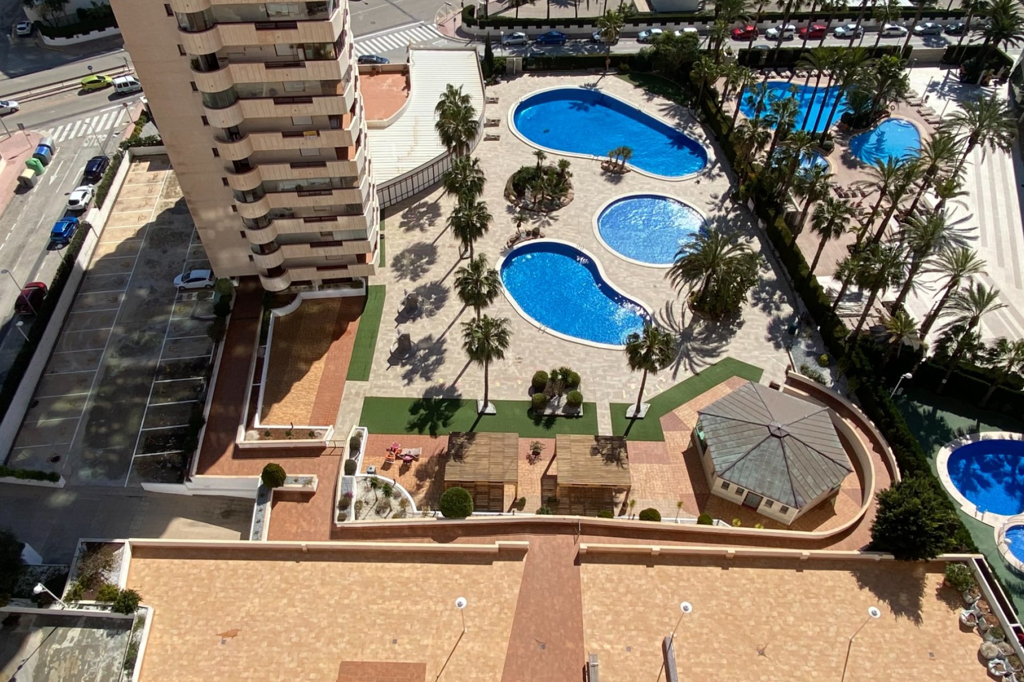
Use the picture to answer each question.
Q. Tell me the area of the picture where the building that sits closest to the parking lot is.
top left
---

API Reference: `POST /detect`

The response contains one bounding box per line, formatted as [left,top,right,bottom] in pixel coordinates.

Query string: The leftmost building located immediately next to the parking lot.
[105,0,386,303]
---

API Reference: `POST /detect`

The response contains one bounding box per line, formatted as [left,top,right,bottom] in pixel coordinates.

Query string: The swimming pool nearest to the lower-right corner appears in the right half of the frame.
[994,512,1024,568]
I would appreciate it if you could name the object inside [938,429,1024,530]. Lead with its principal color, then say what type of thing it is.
blue swimming pool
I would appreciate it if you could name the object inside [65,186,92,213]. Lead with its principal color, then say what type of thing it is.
white car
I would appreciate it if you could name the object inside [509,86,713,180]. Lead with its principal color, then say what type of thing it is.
blue swimming pool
